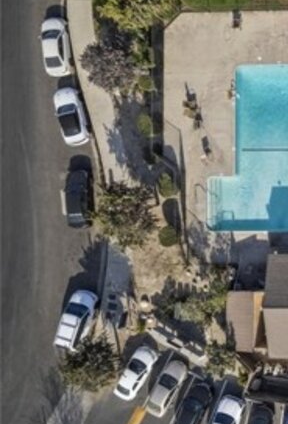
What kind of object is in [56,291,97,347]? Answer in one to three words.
car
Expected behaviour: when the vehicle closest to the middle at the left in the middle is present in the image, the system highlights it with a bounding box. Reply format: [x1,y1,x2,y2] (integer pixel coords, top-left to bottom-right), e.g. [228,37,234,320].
[62,166,94,224]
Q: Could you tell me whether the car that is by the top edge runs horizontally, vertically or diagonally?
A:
vertically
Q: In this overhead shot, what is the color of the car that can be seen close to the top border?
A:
white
